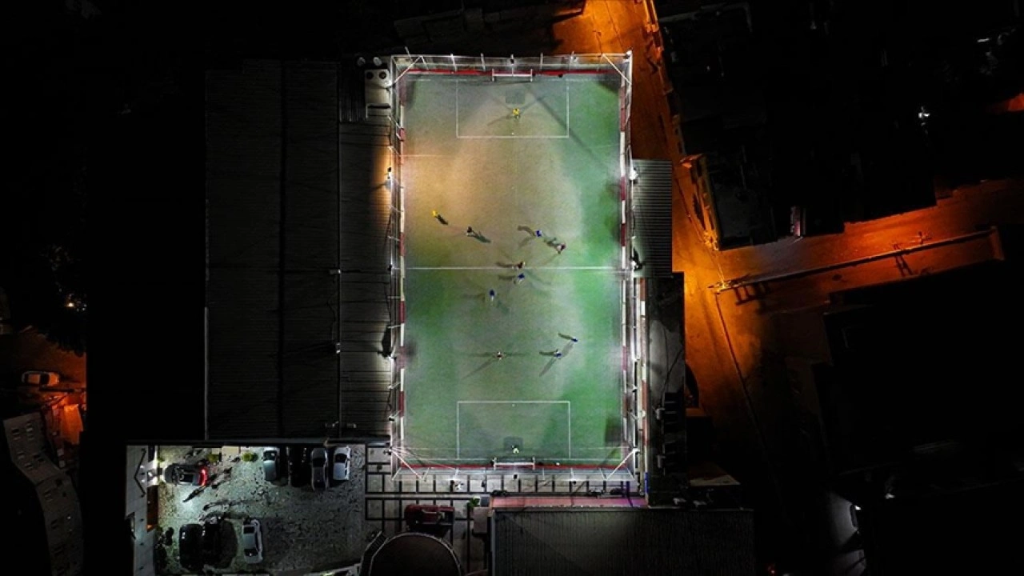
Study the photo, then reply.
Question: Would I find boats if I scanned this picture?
No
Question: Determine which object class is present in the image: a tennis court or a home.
home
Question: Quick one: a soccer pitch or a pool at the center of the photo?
soccer pitch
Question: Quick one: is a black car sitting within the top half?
No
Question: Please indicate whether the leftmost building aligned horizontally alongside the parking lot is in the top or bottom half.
bottom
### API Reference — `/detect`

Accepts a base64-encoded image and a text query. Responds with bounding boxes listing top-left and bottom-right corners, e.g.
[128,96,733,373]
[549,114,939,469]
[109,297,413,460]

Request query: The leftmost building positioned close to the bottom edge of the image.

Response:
[0,412,83,576]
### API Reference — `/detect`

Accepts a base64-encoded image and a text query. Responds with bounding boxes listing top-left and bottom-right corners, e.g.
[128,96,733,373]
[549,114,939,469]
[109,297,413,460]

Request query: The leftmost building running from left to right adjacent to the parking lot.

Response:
[360,526,465,576]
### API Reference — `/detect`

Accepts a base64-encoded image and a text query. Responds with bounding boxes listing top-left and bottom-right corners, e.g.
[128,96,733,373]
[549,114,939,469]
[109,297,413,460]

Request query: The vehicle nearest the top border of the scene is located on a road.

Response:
[17,369,59,388]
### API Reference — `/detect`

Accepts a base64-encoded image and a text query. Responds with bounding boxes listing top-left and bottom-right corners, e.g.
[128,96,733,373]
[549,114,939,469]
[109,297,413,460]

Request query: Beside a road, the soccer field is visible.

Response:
[402,76,625,462]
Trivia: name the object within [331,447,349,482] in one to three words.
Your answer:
car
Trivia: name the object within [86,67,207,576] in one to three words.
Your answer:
building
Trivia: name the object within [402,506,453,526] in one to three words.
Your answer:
vehicle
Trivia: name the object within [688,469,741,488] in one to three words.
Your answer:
shed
